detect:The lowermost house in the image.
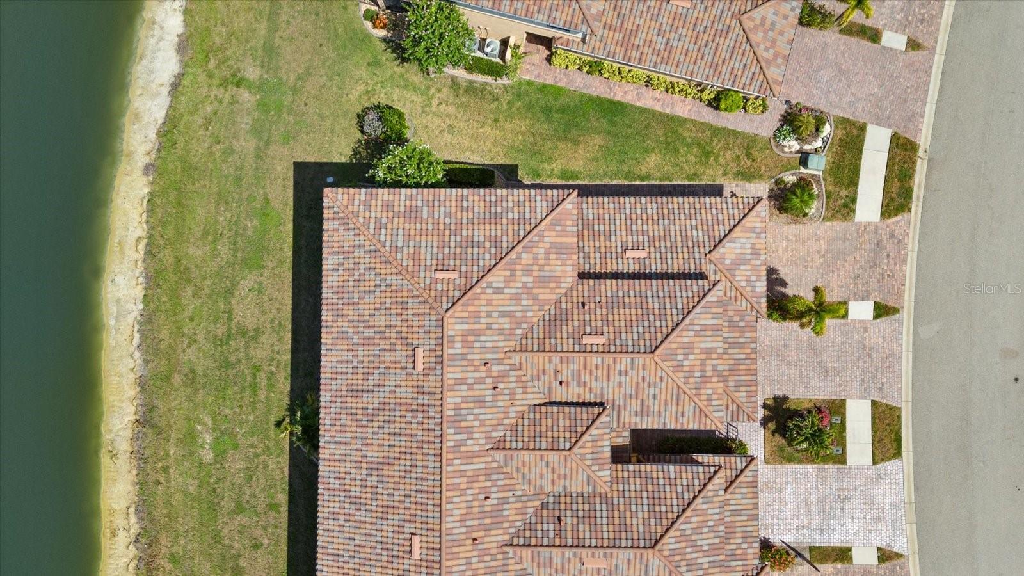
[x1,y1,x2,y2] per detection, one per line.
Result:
[314,186,776,576]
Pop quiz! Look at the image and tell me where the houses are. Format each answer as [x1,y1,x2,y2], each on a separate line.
[314,186,776,576]
[376,0,797,101]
